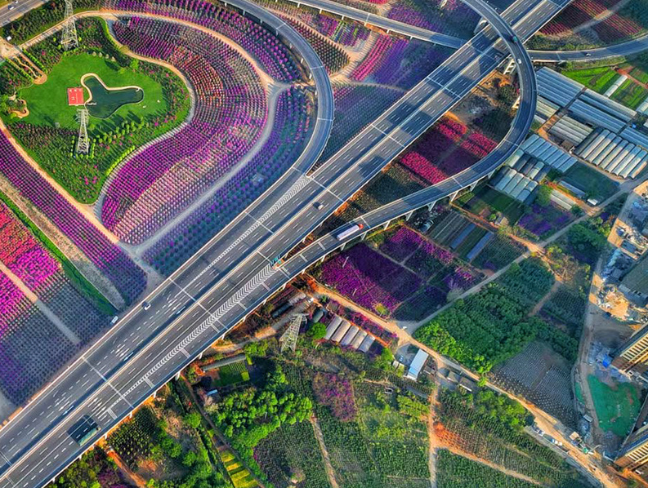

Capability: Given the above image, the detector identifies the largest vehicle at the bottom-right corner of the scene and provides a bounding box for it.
[576,425,592,442]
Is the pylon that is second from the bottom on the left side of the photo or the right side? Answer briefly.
left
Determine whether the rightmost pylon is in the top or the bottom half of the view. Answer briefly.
bottom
